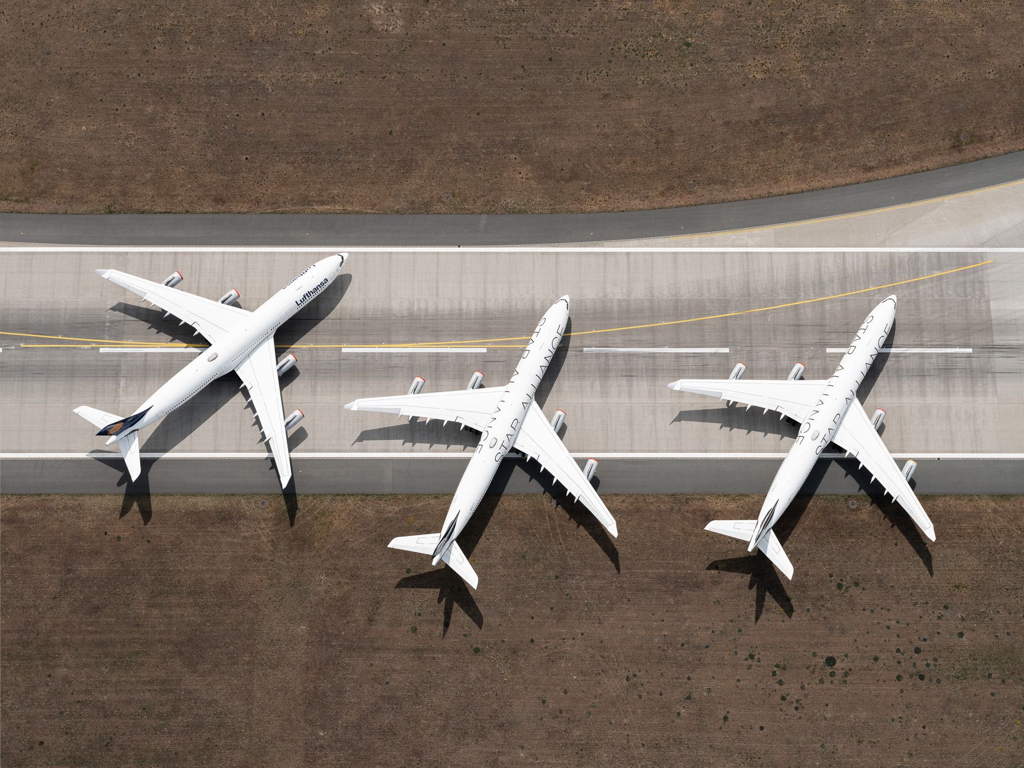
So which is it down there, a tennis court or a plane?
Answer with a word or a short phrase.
plane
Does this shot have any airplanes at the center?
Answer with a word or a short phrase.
Yes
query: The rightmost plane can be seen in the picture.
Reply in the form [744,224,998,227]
[667,294,935,579]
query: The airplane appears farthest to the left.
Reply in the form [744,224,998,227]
[73,251,349,489]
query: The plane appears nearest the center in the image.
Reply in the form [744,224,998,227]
[342,294,617,589]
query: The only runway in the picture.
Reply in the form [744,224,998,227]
[0,247,1024,459]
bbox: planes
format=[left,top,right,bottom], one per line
[342,294,617,589]
[667,294,935,579]
[73,251,349,489]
